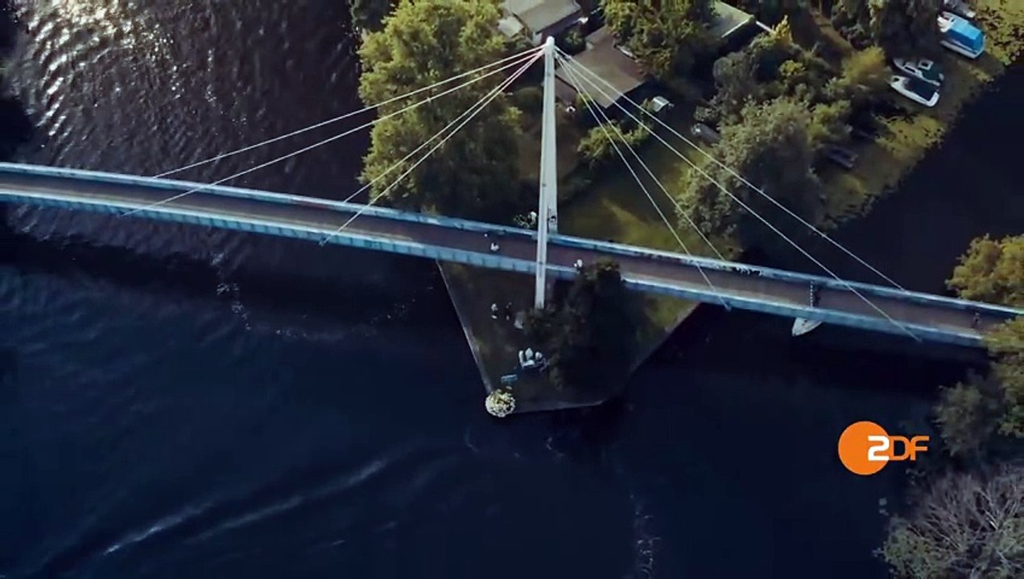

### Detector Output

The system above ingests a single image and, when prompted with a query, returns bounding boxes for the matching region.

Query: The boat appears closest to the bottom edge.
[794,322,817,340]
